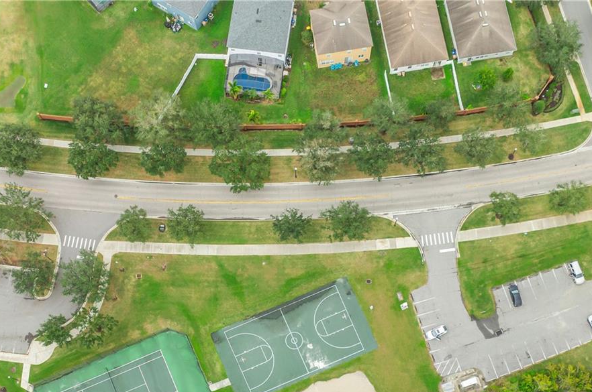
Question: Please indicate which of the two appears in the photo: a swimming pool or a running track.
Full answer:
This aerial view contains a swimming pool.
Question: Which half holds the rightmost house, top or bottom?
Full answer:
It is in the top half that the rightmost house appears.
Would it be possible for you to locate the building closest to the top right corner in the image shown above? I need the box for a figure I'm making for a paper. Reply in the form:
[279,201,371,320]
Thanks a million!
[442,0,517,65]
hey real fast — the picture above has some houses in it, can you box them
[226,0,293,67]
[91,0,125,17]
[375,0,448,74]
[310,0,373,67]
[142,0,220,32]
[442,0,517,65]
